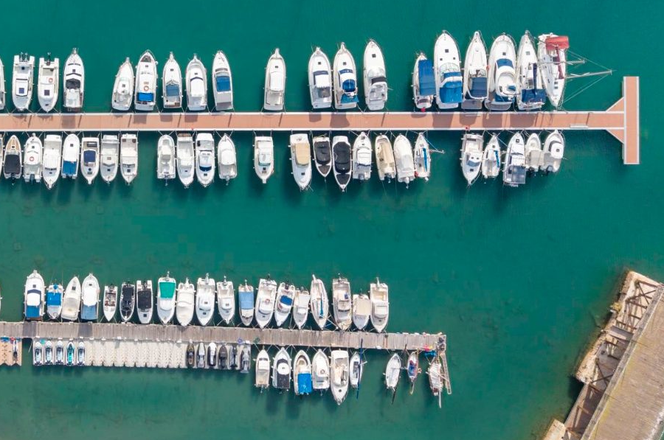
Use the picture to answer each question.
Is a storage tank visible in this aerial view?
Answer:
No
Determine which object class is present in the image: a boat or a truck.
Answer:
boat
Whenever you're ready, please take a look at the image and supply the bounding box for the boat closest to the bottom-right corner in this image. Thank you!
[427,350,442,394]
